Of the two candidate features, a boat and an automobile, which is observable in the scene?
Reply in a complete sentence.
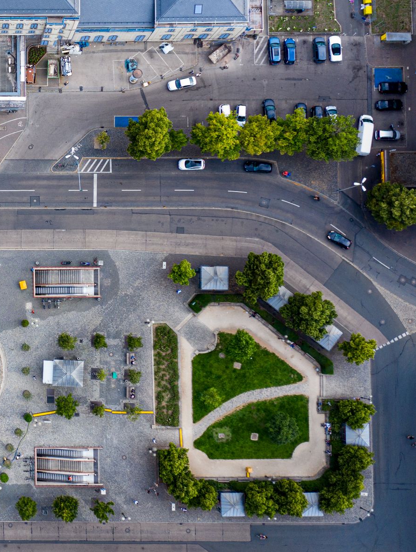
I can see an automobile in this picture.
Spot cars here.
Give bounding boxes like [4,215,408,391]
[219,104,230,118]
[325,105,339,125]
[311,105,323,126]
[328,34,342,62]
[294,103,308,120]
[375,98,403,111]
[263,99,277,124]
[179,158,206,171]
[379,81,408,95]
[244,160,272,173]
[167,76,197,91]
[375,124,401,142]
[283,34,298,64]
[268,34,283,63]
[326,230,353,251]
[235,105,247,126]
[312,35,327,63]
